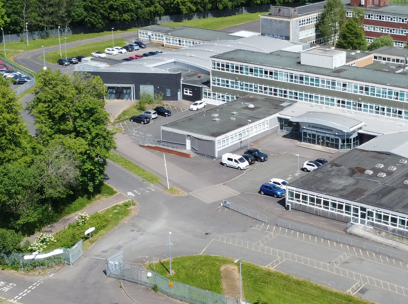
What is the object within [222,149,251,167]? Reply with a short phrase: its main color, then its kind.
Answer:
white vehicle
